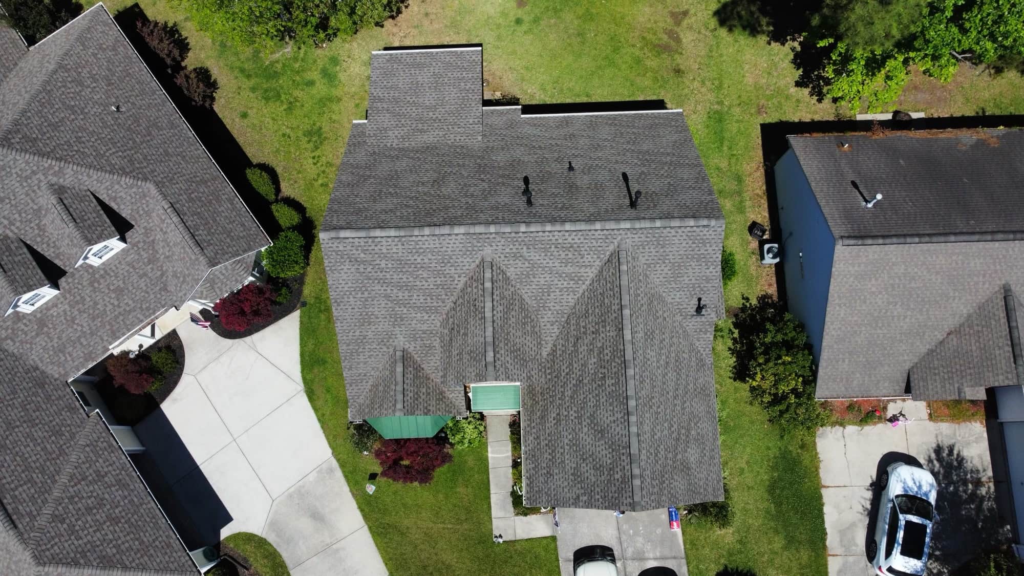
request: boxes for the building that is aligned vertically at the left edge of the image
[0,1,274,576]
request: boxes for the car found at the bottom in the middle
[571,555,623,576]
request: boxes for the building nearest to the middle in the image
[320,46,724,512]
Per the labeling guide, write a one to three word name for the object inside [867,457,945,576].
car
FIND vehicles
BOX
[867,457,945,576]
[571,555,623,576]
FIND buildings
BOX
[776,126,1024,544]
[0,1,274,576]
[320,46,724,512]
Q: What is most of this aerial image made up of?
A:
buildings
